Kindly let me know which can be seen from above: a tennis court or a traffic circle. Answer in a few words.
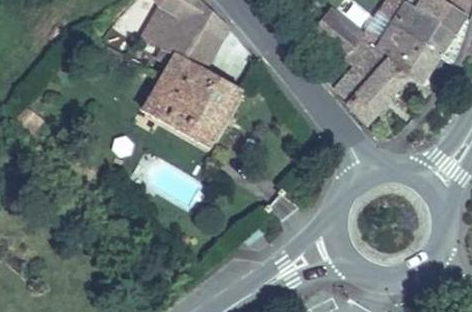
traffic circle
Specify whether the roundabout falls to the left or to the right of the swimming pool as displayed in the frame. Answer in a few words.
on its right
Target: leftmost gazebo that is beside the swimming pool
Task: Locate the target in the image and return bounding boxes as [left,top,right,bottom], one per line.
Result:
[112,135,135,159]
